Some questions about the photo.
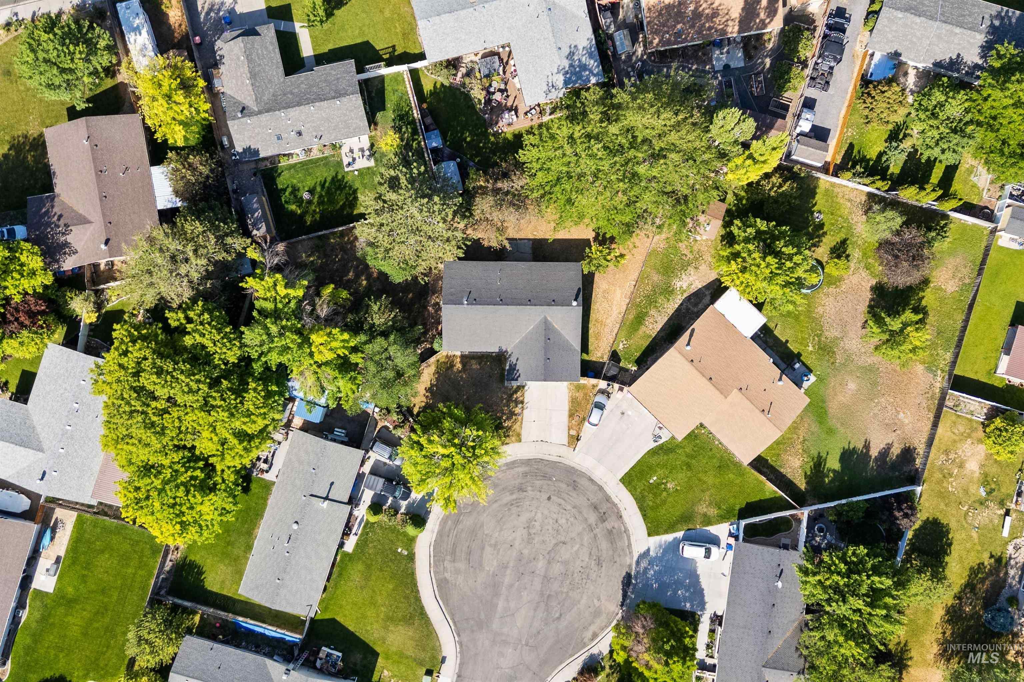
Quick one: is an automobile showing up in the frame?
Yes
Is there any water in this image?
No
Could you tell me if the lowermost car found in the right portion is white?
Yes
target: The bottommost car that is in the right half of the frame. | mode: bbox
[678,540,720,563]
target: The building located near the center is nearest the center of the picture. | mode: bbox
[443,261,582,382]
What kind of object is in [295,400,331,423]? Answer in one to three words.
shed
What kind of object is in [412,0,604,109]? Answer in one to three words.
house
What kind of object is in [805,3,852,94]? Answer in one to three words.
truck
